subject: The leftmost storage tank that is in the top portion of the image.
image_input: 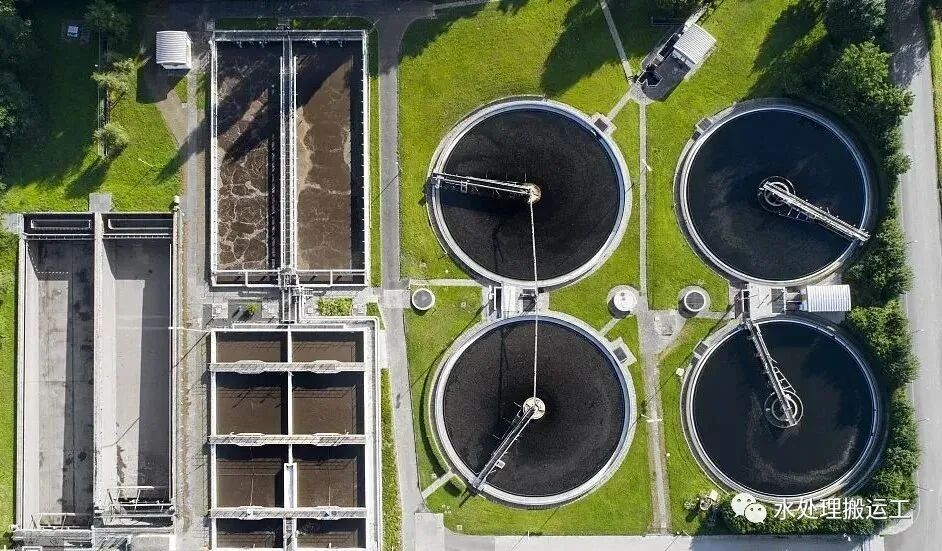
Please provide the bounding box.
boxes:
[208,29,369,286]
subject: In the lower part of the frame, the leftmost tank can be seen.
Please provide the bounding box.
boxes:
[205,324,377,551]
